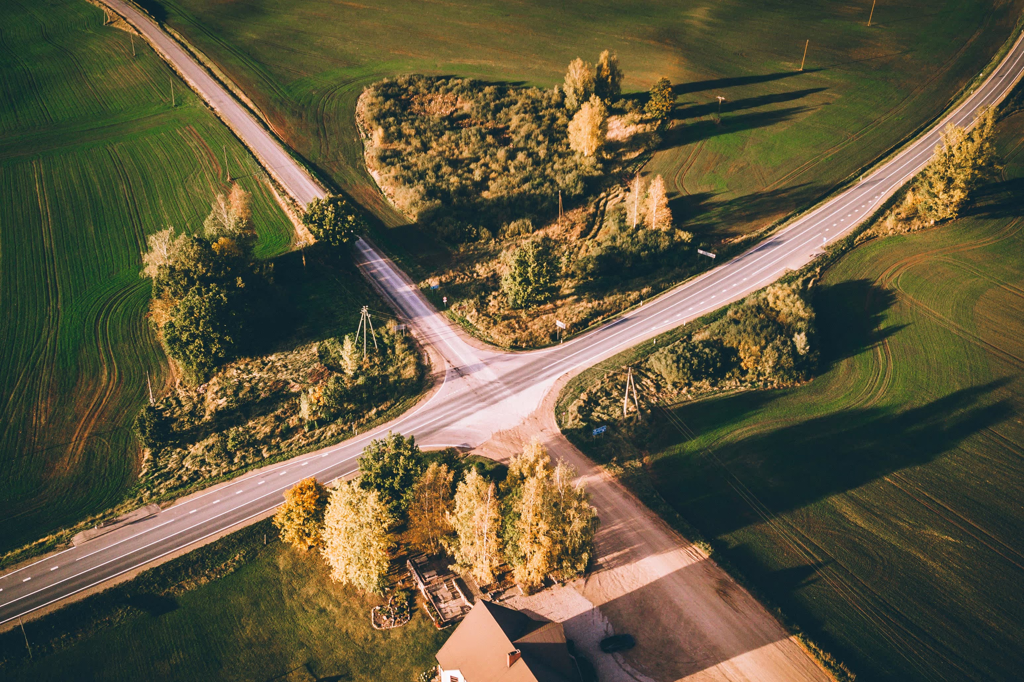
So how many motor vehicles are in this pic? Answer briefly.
1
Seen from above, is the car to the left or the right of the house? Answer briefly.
to the right of it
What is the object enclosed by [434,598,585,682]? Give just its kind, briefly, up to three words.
house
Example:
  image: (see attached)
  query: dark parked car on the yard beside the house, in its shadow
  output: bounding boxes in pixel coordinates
[600,633,638,655]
